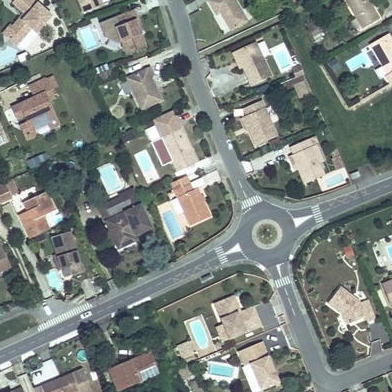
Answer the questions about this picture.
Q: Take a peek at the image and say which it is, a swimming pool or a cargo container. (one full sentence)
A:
I can see a swimming pool in this picture.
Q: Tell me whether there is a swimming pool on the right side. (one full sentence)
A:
Yes, a swimming pool can be seen on the right side.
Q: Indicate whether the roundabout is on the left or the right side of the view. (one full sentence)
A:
It is on the right.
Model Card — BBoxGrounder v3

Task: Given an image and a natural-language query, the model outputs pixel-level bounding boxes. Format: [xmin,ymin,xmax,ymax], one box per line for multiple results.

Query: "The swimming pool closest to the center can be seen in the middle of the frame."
[162,208,184,238]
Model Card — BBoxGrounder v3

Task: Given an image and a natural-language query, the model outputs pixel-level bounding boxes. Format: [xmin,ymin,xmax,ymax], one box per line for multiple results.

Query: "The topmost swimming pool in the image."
[76,24,104,54]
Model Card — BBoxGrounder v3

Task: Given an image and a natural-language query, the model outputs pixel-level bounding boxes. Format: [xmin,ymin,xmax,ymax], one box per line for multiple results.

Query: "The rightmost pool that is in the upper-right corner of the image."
[346,50,372,71]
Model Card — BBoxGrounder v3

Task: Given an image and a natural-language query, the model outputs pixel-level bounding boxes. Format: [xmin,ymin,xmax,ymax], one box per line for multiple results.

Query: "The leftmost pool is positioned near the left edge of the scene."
[0,46,18,66]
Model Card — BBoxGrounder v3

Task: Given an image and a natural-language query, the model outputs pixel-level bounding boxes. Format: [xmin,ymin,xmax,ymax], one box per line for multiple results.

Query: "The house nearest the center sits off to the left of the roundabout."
[172,172,212,226]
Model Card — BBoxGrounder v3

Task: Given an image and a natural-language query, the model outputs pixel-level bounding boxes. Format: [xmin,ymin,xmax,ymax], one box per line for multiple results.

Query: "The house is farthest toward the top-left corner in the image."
[2,0,48,61]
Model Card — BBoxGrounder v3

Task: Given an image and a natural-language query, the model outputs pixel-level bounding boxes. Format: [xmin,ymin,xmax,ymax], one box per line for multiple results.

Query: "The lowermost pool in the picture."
[202,360,240,383]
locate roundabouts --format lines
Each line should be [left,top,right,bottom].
[236,202,298,264]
